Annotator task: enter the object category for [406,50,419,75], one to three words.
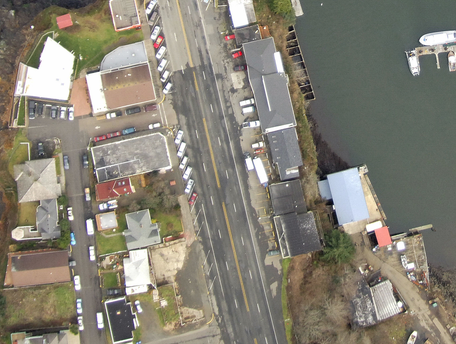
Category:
boat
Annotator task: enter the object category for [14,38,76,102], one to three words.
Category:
building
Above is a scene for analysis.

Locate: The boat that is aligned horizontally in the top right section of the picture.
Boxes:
[419,30,456,44]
